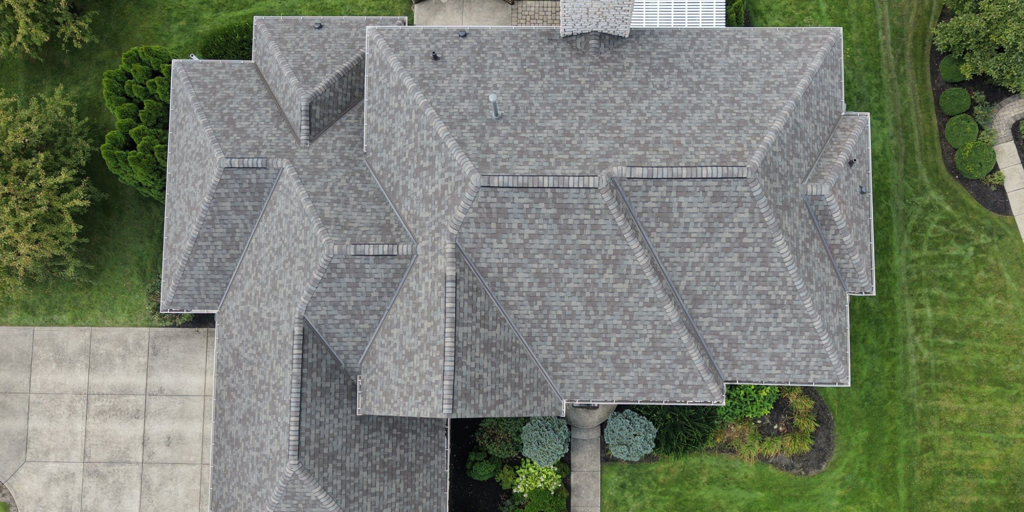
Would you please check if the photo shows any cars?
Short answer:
No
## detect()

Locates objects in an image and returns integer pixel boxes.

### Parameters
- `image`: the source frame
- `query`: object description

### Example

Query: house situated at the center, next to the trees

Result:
[161,0,875,512]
